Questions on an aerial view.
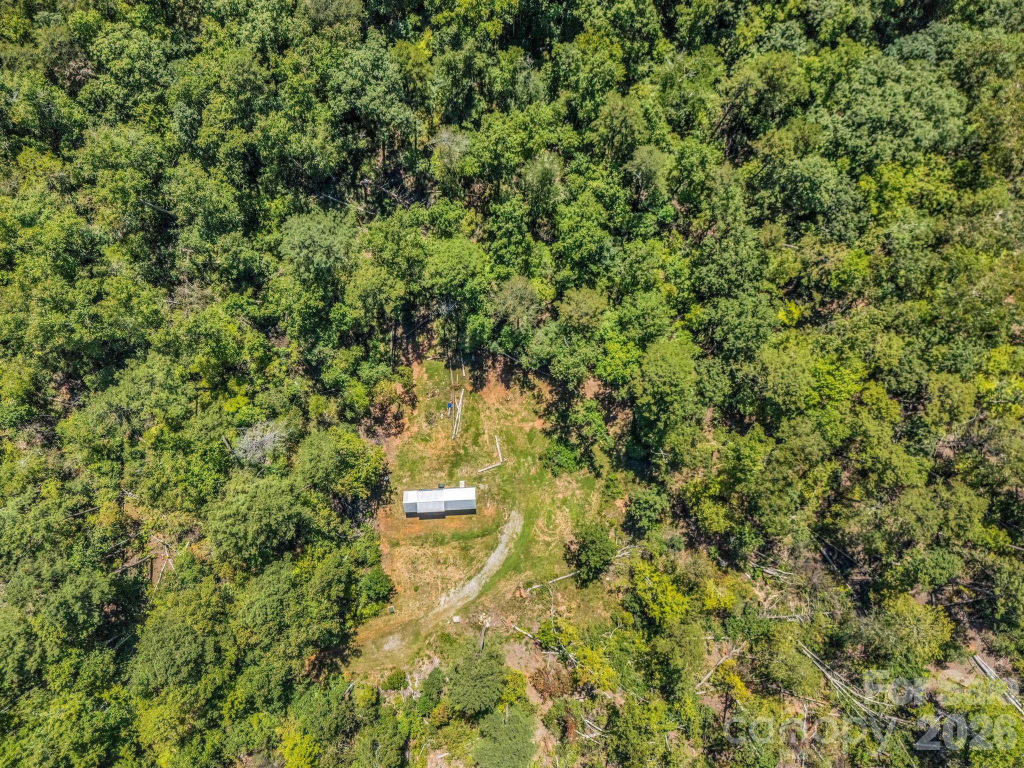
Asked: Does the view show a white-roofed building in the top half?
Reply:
No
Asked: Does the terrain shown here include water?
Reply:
No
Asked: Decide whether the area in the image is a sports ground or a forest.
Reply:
forest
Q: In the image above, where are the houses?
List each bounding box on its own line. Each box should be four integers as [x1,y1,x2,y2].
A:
[403,487,477,514]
